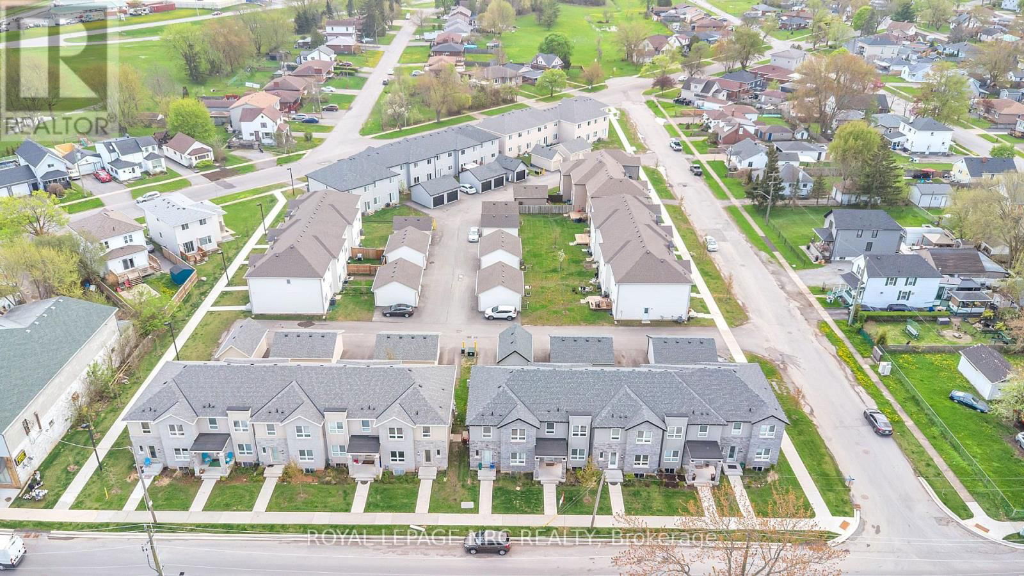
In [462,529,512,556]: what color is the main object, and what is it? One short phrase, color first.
gray car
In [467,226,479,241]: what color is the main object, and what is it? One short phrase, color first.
white vehicle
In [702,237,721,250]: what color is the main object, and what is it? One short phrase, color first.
white vehicle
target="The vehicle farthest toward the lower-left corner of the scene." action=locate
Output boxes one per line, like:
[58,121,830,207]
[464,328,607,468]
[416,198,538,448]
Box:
[0,528,35,567]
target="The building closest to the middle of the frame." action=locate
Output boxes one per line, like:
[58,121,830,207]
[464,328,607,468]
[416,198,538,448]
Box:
[476,259,523,307]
